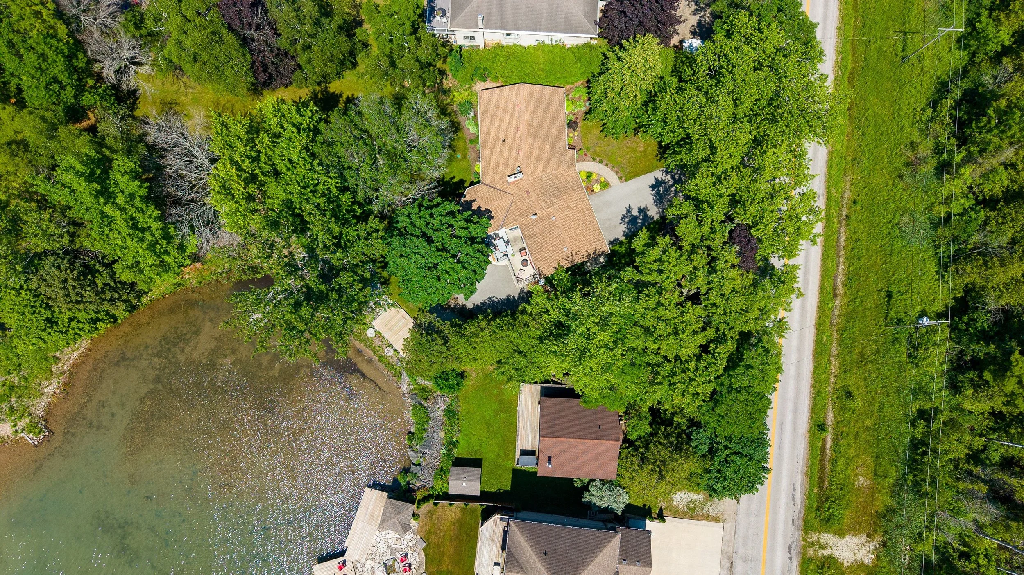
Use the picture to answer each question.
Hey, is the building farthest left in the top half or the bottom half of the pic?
bottom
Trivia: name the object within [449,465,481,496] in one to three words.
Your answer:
shed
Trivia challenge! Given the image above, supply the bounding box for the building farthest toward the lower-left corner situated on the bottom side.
[378,494,417,536]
